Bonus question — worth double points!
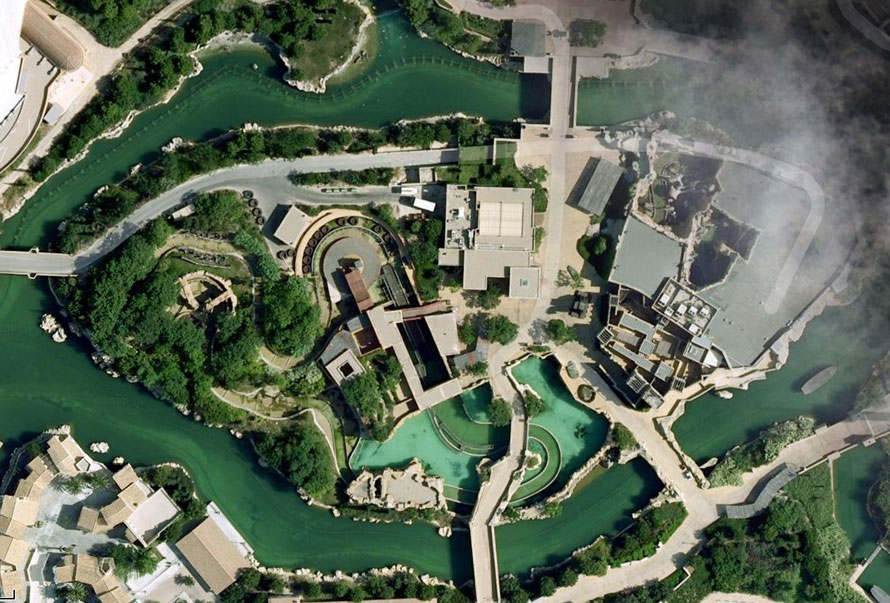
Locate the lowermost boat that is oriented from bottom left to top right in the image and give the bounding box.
[799,367,835,394]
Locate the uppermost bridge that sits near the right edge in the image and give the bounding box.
[807,395,890,466]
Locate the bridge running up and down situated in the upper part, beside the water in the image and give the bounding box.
[551,56,578,128]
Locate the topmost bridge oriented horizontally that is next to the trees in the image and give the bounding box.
[0,247,75,280]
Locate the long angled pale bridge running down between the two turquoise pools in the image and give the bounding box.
[468,415,529,603]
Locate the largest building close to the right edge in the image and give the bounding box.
[699,148,860,369]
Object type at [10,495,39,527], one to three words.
house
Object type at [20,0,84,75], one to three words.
building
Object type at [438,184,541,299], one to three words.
building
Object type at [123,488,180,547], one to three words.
house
